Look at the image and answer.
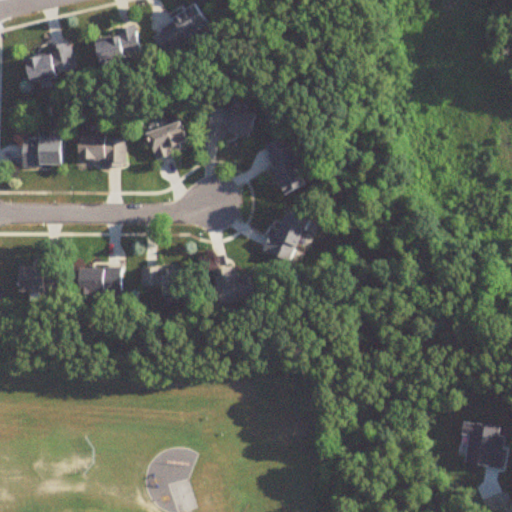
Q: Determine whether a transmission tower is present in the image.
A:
No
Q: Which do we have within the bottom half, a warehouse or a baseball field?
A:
baseball field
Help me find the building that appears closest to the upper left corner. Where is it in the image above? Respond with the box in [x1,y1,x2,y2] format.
[27,42,74,77]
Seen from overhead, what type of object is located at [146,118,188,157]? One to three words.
house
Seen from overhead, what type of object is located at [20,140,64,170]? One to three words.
house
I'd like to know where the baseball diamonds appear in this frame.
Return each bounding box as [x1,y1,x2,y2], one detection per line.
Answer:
[28,436,100,502]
